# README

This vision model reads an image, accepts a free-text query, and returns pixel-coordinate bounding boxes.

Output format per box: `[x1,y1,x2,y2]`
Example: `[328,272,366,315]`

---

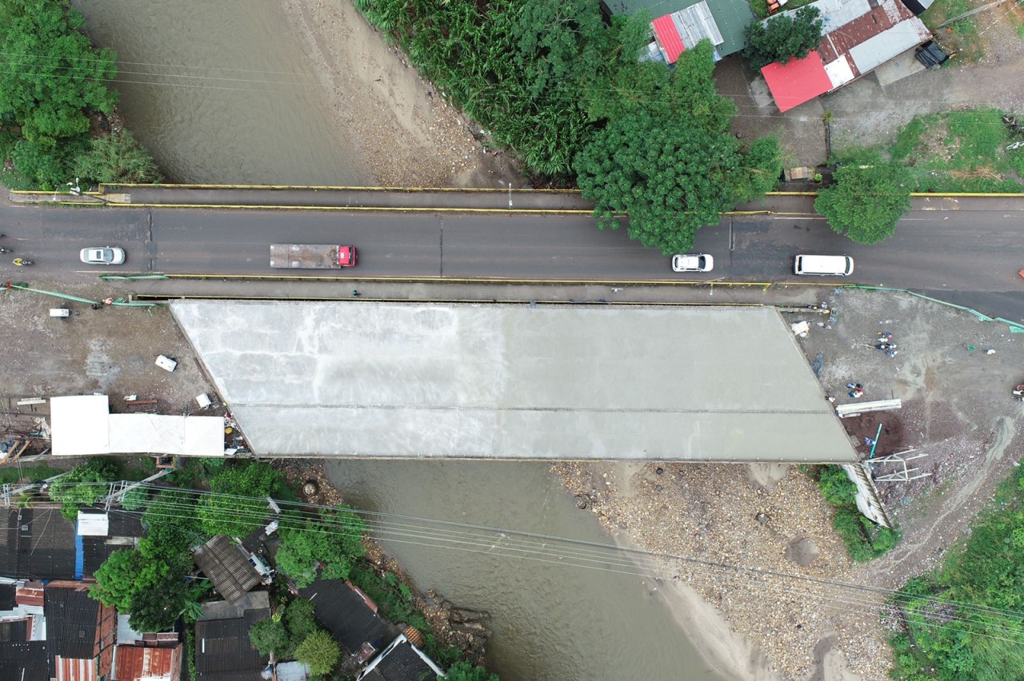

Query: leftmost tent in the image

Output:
[51,394,122,456]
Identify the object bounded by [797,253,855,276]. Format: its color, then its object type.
white vehicle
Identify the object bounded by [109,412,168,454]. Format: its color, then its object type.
white tent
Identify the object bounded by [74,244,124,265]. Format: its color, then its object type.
white car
